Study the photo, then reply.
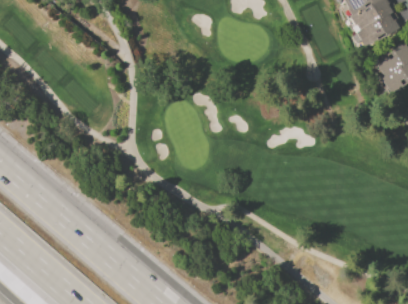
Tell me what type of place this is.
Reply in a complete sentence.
It's a golf course.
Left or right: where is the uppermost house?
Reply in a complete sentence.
The uppermost house appears in the right half of the scene.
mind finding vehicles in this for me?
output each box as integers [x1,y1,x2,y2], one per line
[0,176,10,184]
[72,290,83,301]
[148,274,158,282]
[74,228,84,236]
